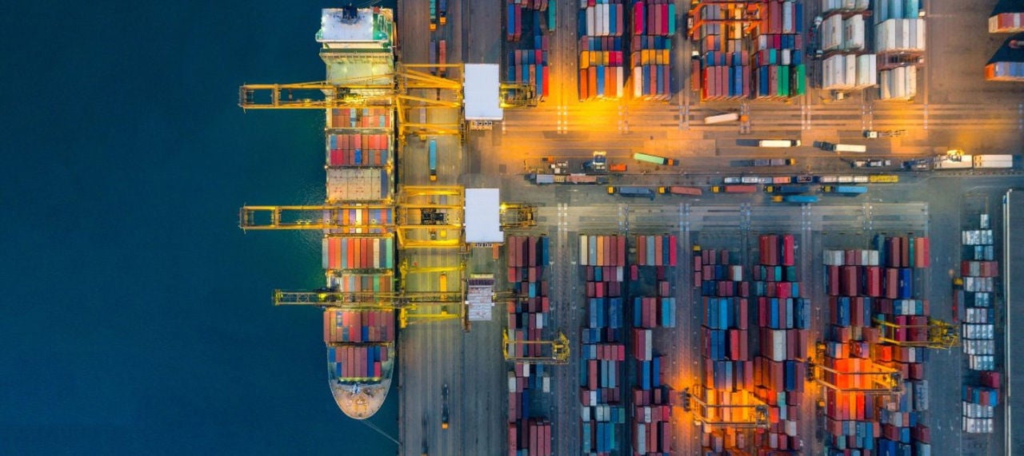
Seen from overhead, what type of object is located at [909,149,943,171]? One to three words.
work vehicle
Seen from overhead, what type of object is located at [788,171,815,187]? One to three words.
work vehicle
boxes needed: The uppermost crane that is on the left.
[239,63,536,149]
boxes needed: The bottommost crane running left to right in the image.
[689,390,774,429]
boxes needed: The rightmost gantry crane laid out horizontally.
[871,314,970,349]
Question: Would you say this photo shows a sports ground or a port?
port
